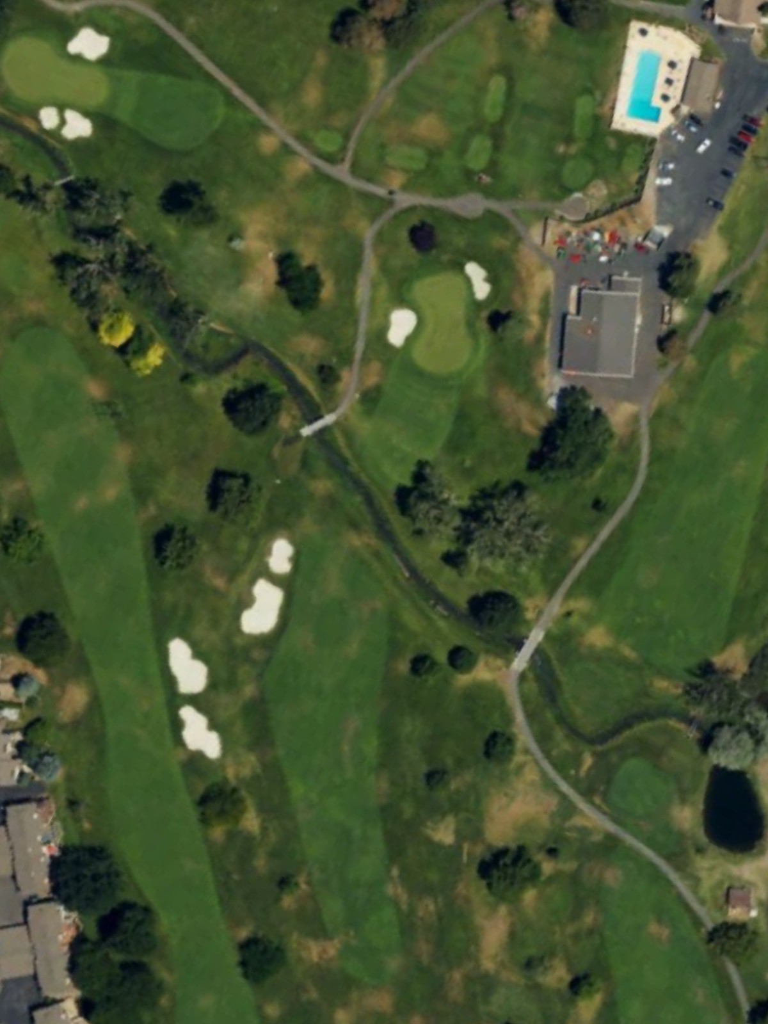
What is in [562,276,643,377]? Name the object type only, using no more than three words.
building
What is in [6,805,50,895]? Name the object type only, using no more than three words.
house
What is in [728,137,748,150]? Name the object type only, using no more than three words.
vehicle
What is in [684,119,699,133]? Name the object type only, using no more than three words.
car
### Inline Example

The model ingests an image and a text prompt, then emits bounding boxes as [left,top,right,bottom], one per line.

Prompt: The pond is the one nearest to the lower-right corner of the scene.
[703,764,764,853]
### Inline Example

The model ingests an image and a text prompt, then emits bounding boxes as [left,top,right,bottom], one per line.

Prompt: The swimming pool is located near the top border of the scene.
[611,20,701,139]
